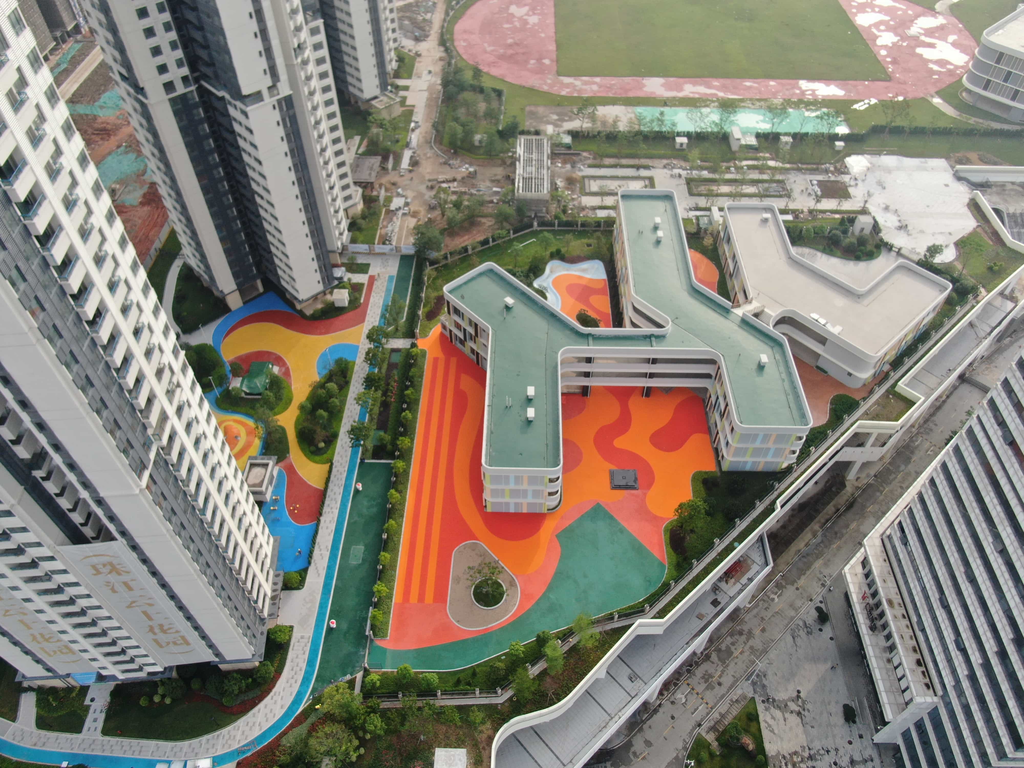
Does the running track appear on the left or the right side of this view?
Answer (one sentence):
The running track sits on the right side.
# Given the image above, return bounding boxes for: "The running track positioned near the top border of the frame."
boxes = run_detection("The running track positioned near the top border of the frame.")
[454,0,977,100]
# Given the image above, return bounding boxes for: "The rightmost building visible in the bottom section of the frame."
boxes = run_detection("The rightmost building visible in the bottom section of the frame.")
[841,321,1024,768]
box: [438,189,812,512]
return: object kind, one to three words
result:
building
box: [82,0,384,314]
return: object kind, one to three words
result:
building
